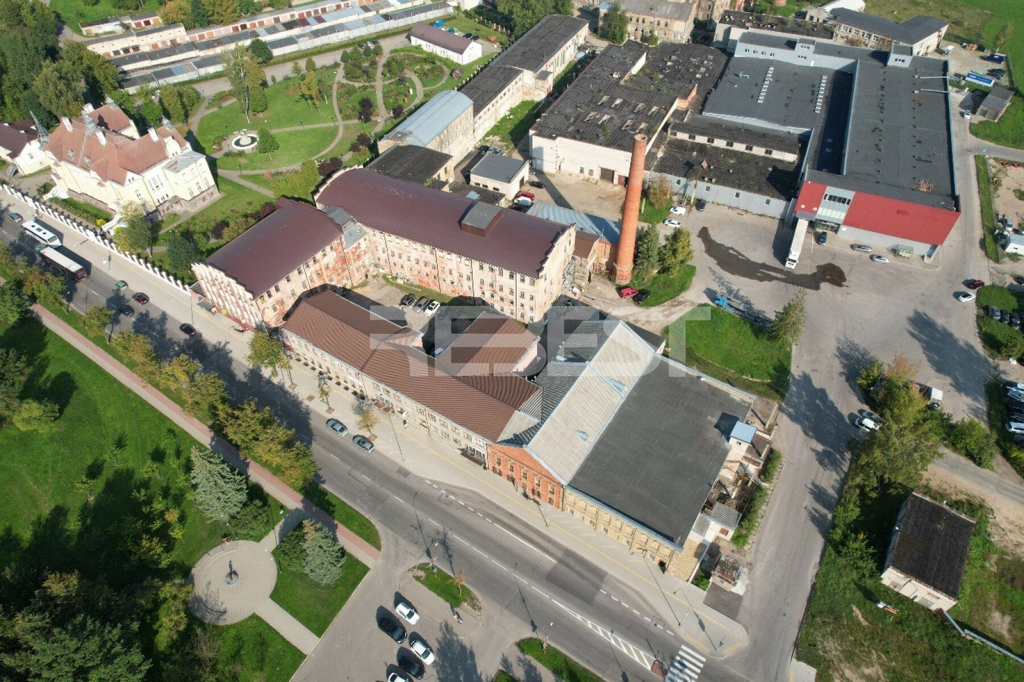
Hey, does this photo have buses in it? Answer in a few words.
Yes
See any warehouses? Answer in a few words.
Yes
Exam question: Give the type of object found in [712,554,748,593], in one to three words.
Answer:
shed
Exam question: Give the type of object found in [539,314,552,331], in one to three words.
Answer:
vehicle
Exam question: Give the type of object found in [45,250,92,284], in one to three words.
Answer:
bus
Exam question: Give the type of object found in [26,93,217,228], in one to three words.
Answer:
house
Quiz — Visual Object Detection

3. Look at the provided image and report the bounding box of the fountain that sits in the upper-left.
[230,129,258,148]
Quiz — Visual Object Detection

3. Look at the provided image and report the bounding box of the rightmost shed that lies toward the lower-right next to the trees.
[878,488,979,613]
